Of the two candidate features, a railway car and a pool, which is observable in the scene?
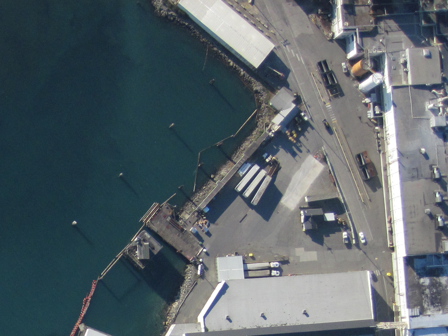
railway car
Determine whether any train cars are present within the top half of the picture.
Yes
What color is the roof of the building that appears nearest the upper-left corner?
white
